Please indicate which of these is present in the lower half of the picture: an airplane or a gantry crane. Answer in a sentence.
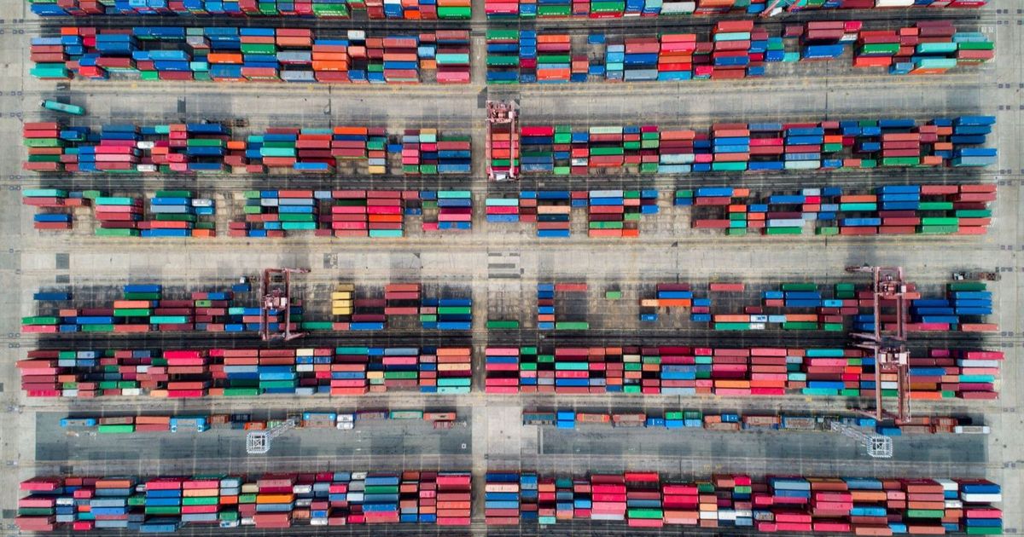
It is a gantry crane that can be seen in the lower half of the picture.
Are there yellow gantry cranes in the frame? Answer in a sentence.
No, no yellow gantry crane is visible in the scene.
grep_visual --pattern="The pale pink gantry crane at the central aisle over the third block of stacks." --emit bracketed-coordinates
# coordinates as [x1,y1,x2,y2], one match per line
[484,99,522,180]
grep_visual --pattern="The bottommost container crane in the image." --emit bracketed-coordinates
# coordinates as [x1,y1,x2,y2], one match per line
[841,343,909,421]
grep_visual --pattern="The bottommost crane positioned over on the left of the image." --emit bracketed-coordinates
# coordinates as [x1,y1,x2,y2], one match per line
[260,267,315,340]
